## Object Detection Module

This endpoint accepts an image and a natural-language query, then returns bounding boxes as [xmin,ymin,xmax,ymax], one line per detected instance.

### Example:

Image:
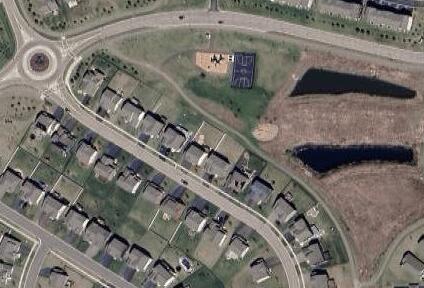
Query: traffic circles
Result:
[3,32,69,90]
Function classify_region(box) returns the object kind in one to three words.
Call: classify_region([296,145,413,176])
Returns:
pond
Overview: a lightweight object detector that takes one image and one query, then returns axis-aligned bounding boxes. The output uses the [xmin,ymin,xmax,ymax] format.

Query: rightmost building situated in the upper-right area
[365,8,414,33]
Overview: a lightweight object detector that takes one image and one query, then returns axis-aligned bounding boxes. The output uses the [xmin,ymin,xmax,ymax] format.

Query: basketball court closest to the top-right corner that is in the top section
[231,52,256,89]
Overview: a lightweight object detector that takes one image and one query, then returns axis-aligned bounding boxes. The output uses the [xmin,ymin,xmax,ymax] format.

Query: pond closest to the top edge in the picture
[292,69,416,98]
